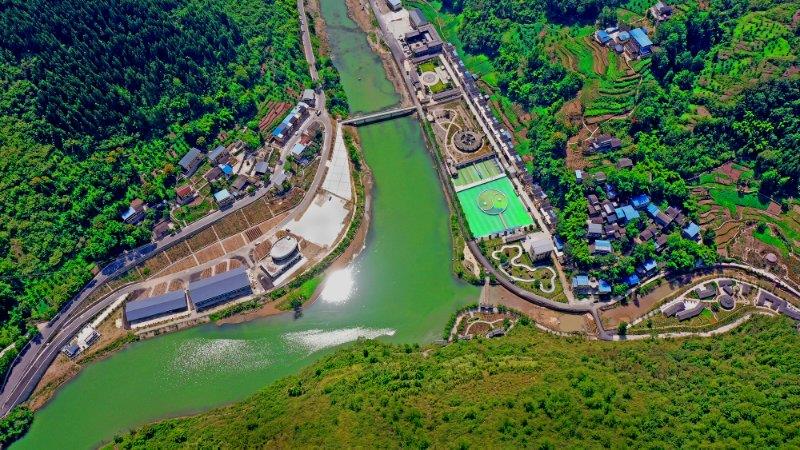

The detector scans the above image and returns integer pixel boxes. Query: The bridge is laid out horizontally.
[344,104,417,127]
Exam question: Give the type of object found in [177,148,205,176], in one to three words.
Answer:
house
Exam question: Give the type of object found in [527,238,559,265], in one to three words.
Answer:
building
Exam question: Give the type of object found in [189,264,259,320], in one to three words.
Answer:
shed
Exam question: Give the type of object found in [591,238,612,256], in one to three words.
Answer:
house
